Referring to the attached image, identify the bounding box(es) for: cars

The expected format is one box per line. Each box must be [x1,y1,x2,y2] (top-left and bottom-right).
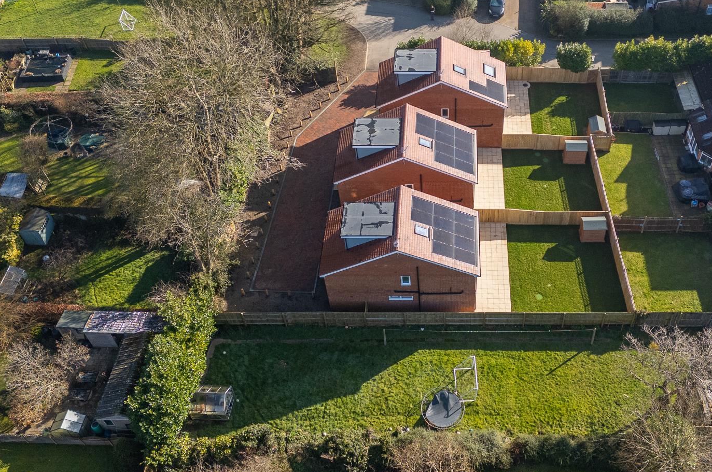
[488,0,506,17]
